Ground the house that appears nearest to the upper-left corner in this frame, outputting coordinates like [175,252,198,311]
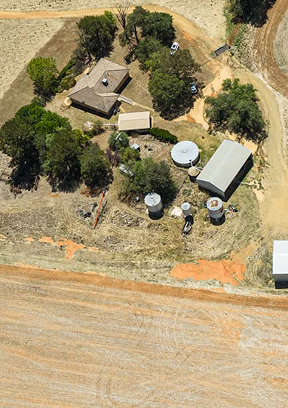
[67,59,129,117]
